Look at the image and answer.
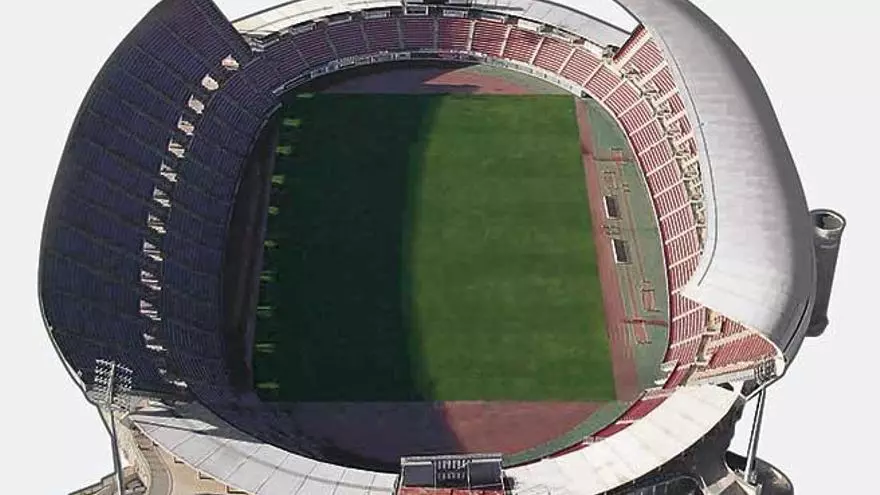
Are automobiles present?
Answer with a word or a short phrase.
No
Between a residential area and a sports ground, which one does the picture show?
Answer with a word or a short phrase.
sports ground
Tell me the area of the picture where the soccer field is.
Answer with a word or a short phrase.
center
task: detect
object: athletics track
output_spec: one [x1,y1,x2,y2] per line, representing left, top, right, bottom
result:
[226,60,668,459]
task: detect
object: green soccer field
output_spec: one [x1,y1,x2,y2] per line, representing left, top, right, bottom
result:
[251,94,616,402]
